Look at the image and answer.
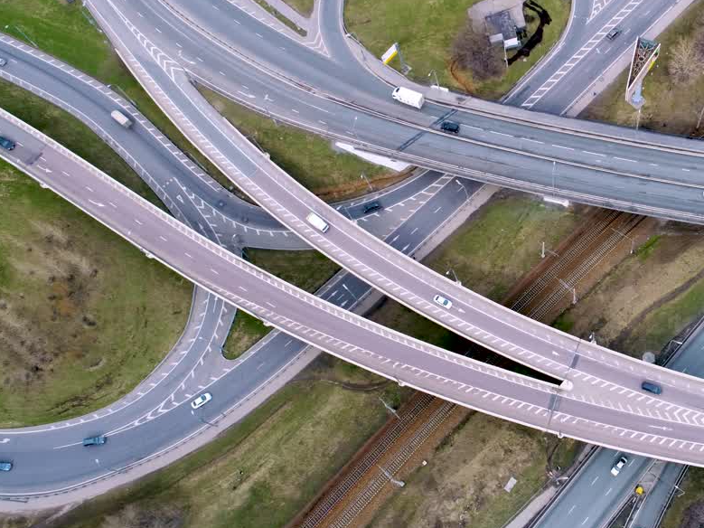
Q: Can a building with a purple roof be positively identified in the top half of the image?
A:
No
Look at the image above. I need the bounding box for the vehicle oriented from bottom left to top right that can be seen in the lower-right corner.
[609,455,629,477]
